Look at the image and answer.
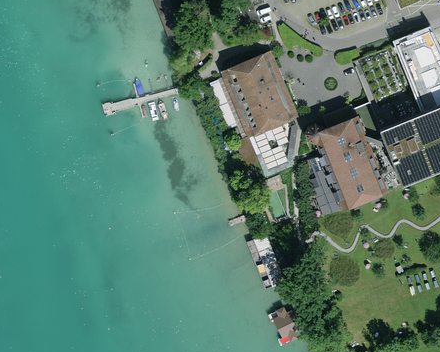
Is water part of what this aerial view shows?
Yes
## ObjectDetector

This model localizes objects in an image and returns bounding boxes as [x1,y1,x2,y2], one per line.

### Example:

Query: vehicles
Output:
[370,7,376,16]
[342,16,349,26]
[353,12,360,22]
[352,0,359,8]
[320,8,326,18]
[332,6,338,16]
[376,4,382,14]
[318,24,326,34]
[326,8,332,18]
[348,14,354,24]
[257,6,270,16]
[258,14,272,23]
[336,18,343,28]
[338,2,345,14]
[358,10,365,21]
[308,14,316,25]
[360,0,366,7]
[364,8,371,20]
[314,11,322,22]
[344,0,351,10]
[343,68,354,74]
